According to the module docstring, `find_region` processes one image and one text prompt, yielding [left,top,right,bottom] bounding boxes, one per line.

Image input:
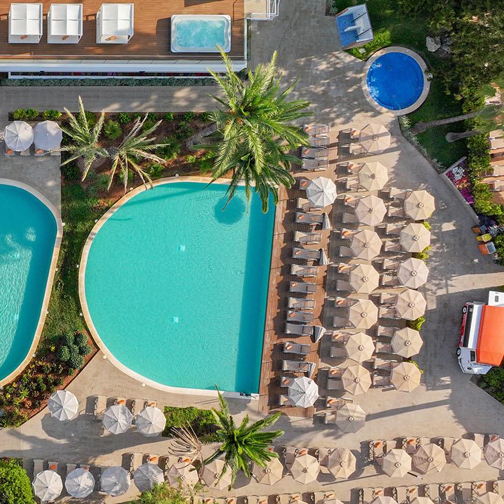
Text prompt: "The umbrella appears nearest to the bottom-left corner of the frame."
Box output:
[34,470,62,500]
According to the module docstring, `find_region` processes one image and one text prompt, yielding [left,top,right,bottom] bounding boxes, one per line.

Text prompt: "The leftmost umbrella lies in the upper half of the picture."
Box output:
[5,121,34,150]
